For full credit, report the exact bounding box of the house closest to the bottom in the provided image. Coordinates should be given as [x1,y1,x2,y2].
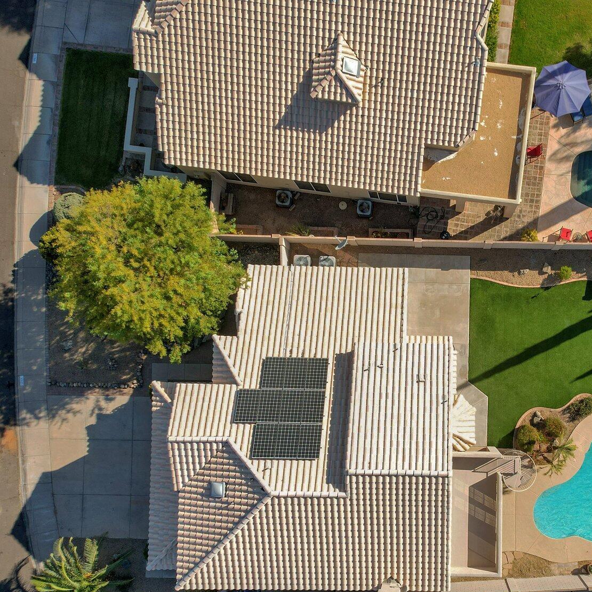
[145,265,501,592]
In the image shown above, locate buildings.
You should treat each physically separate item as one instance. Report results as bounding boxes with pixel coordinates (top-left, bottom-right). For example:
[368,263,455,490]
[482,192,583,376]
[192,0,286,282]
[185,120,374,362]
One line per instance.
[132,0,535,221]
[145,265,501,592]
